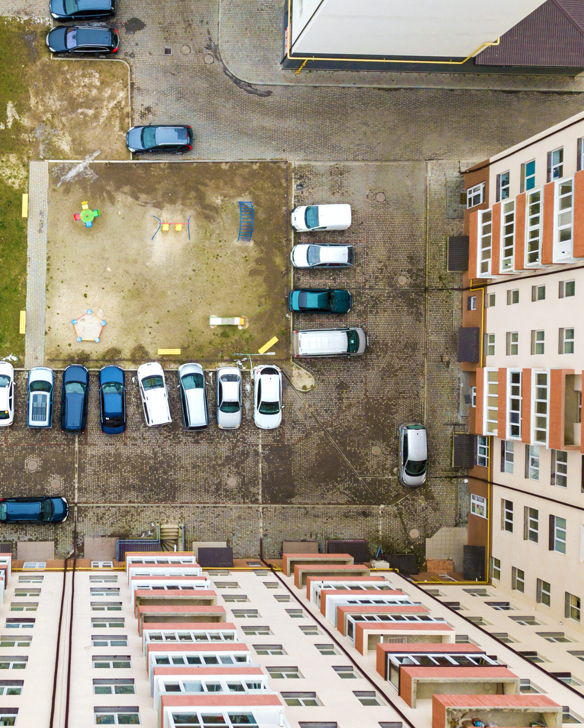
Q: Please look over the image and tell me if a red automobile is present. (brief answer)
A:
No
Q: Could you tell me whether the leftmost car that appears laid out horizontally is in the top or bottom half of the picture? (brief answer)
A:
bottom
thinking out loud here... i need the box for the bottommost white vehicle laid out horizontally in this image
[289,326,365,360]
